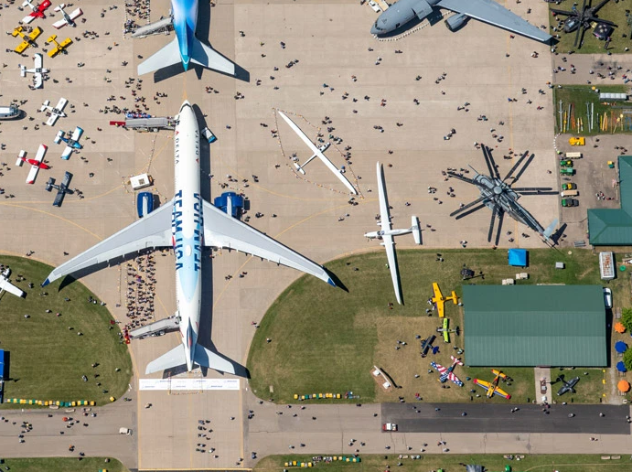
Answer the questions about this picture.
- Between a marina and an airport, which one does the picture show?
airport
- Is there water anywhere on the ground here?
No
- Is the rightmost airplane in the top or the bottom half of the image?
bottom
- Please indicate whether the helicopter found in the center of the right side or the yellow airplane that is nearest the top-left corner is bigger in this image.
the helicopter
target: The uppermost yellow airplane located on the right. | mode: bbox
[427,282,459,318]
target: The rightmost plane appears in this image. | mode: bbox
[558,372,580,394]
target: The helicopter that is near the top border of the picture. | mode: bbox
[550,0,620,46]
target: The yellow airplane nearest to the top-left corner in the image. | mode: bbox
[13,24,43,54]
